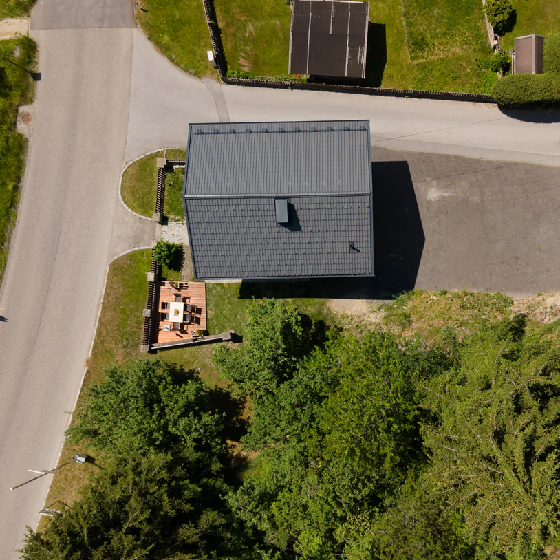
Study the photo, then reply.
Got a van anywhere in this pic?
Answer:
No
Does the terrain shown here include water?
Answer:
No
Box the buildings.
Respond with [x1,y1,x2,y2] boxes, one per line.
[180,117,374,282]
[288,0,368,86]
[508,35,544,77]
